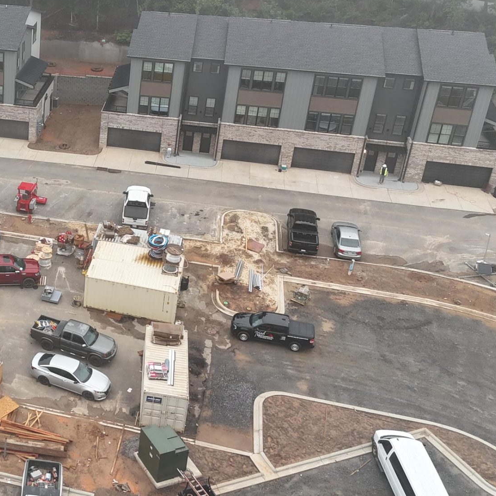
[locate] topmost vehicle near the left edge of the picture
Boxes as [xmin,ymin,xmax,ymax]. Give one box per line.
[16,174,61,211]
